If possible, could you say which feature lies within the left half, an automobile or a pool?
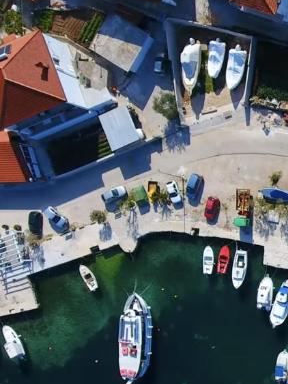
automobile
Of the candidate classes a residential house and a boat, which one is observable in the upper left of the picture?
residential house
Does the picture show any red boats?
Yes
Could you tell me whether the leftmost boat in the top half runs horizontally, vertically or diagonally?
vertically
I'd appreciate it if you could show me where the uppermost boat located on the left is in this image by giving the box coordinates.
[79,254,99,294]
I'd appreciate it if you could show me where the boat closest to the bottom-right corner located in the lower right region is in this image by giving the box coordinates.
[271,349,288,384]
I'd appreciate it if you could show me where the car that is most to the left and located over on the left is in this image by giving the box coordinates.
[28,212,45,238]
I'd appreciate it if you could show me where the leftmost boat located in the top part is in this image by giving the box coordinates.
[181,37,202,96]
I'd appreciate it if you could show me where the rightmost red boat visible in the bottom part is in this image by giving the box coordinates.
[215,243,234,277]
